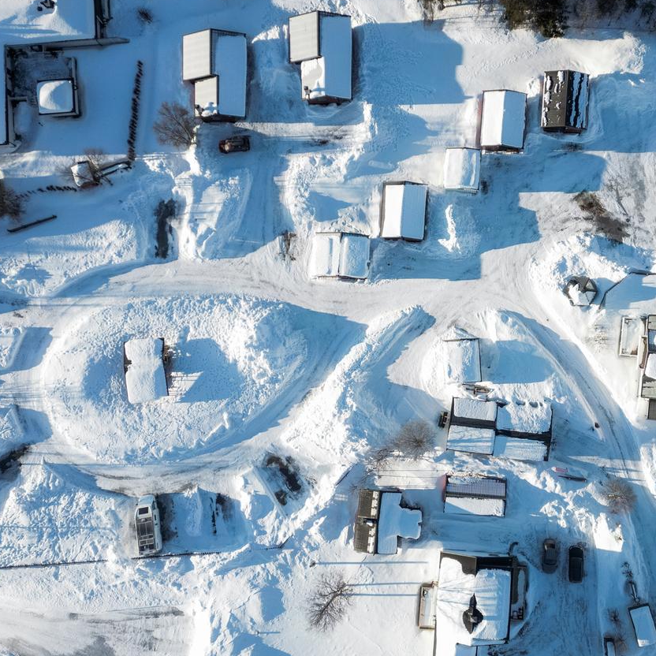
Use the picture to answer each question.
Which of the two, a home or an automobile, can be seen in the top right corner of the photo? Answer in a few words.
home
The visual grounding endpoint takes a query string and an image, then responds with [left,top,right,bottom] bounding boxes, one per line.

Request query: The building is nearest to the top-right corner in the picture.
[541,68,590,133]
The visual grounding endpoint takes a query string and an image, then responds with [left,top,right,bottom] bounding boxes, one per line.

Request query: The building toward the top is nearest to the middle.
[311,233,370,279]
